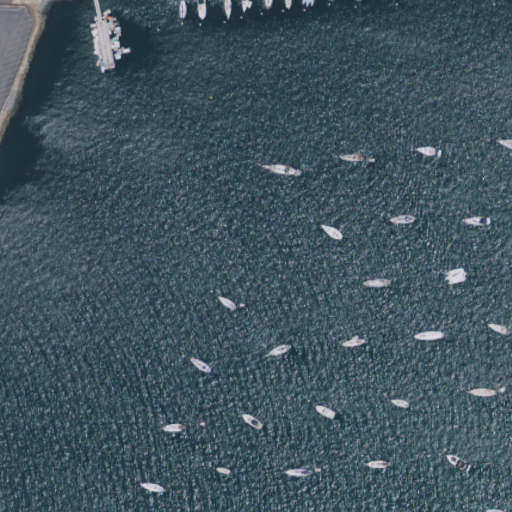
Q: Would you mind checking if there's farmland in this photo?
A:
No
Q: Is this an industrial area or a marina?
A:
marina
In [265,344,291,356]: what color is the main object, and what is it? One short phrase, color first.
white boat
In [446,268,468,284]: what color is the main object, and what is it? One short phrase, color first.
white boat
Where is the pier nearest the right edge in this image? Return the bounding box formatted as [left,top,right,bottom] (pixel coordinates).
[96,0,116,70]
